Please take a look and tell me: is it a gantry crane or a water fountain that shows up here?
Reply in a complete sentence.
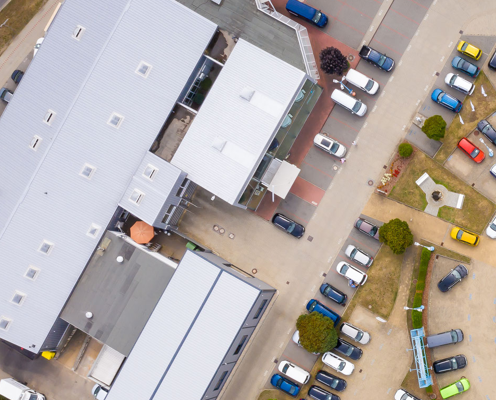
The image shows a water fountain.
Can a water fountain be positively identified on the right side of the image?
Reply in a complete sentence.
Yes, a water fountain appears on the right side of the image.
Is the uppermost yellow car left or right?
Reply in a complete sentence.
The uppermost yellow car appears in the right half of the scene.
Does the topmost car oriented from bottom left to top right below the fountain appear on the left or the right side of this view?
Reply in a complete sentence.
The topmost car oriented from bottom left to top right below the fountain is on the right side of the image.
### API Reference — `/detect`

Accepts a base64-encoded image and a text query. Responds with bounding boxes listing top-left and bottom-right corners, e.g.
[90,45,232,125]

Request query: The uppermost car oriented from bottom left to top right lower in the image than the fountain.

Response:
[437,263,469,294]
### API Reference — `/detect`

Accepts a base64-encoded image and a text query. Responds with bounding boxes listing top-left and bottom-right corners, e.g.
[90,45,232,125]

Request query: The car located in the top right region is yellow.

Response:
[456,41,483,61]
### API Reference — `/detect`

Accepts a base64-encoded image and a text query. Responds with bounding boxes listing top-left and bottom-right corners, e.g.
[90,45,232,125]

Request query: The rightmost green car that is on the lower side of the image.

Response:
[440,379,471,400]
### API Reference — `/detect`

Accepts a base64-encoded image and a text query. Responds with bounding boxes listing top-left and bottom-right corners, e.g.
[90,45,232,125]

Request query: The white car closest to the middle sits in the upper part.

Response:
[312,133,349,159]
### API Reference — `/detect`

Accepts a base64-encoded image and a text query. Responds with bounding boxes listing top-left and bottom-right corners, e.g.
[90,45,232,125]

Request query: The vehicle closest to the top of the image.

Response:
[282,0,330,26]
